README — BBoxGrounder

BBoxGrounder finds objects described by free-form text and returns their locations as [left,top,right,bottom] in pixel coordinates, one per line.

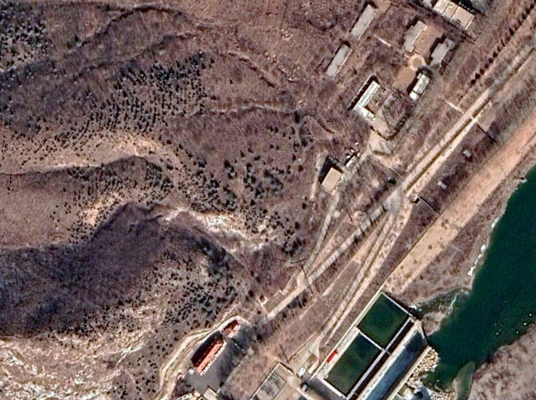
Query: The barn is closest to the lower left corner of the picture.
[194,340,223,372]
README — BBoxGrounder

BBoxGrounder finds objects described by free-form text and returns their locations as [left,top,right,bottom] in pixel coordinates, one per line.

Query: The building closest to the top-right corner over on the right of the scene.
[433,0,474,31]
